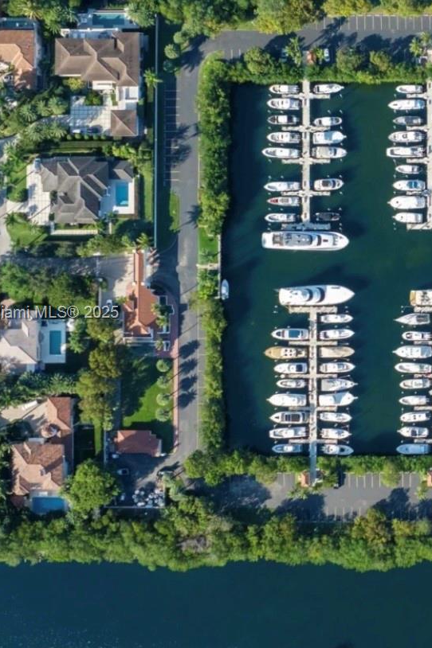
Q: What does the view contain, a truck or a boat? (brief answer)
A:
boat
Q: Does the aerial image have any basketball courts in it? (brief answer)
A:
No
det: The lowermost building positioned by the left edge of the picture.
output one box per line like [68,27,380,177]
[9,398,75,507]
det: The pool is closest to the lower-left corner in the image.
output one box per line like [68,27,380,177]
[31,496,64,512]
